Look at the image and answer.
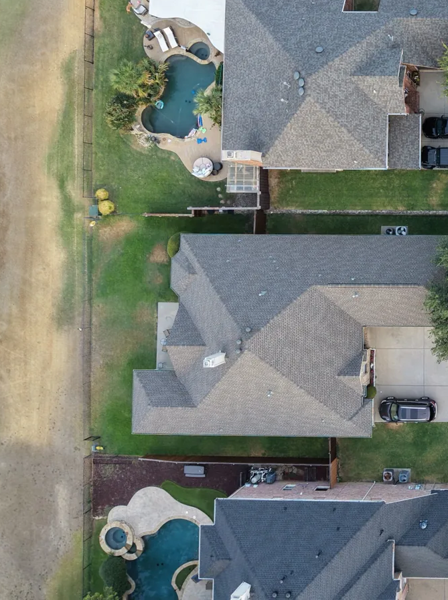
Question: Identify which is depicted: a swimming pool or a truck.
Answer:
swimming pool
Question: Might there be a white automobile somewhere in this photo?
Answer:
No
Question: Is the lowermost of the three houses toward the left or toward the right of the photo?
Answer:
right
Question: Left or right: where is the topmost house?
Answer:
right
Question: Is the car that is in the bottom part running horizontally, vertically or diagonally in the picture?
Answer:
horizontally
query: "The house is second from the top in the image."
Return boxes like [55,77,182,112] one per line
[131,233,448,438]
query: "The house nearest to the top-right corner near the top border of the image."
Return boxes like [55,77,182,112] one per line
[222,0,448,170]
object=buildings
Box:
[198,481,448,600]
[222,0,448,170]
[131,233,448,438]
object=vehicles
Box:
[422,144,448,170]
[423,114,448,141]
[379,395,438,424]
